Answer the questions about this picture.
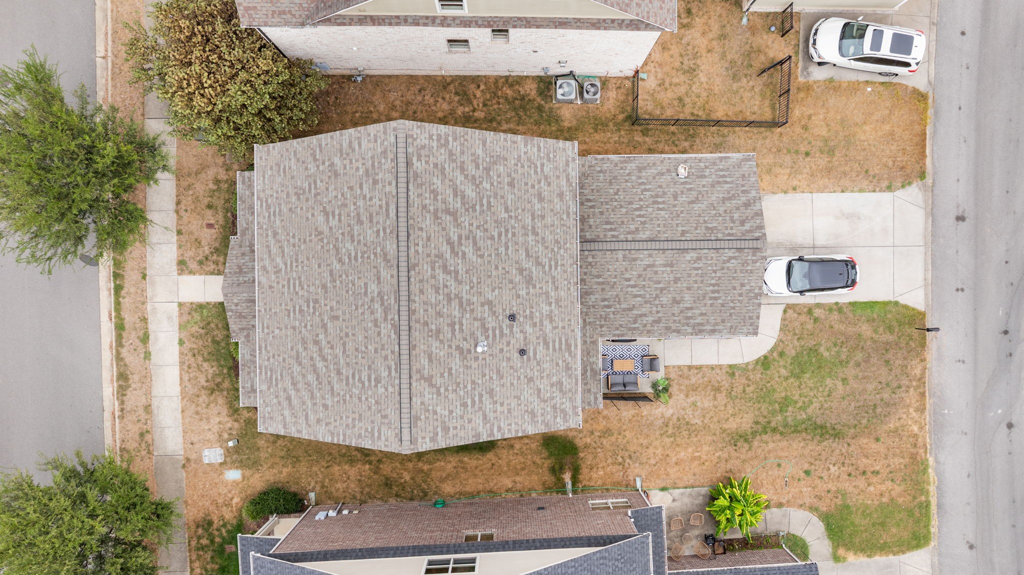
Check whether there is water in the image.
No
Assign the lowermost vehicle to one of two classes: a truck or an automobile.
automobile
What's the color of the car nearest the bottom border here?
white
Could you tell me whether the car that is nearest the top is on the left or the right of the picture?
right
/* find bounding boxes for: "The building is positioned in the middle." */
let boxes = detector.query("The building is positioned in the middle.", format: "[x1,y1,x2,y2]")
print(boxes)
[220,118,768,454]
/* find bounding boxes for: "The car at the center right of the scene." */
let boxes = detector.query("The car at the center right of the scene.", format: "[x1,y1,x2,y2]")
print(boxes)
[763,252,860,300]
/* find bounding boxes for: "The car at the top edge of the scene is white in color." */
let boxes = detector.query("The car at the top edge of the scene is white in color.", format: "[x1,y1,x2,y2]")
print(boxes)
[808,17,926,77]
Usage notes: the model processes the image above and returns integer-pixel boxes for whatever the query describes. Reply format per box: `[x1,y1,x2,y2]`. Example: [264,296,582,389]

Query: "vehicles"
[808,17,926,77]
[763,252,860,300]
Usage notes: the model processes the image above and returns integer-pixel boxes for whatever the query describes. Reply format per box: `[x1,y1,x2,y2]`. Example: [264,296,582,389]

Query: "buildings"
[231,0,680,76]
[220,118,768,454]
[236,492,670,575]
[743,0,916,12]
